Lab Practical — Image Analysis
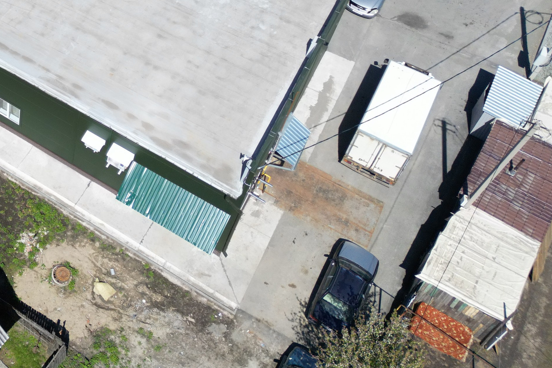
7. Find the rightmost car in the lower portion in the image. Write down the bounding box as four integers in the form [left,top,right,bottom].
[299,241,378,347]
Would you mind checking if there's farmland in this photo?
No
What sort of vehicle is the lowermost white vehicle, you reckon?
truck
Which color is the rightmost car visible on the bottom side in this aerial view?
black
